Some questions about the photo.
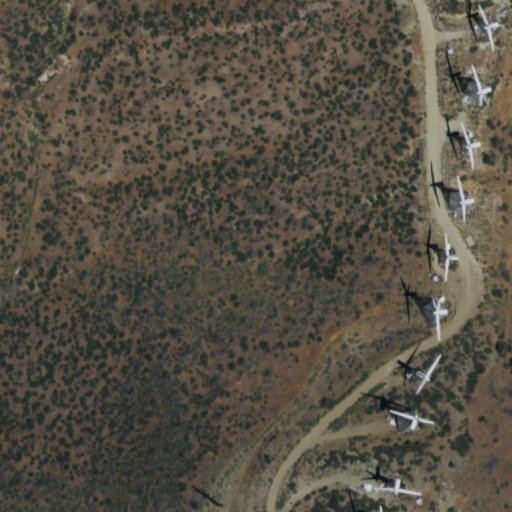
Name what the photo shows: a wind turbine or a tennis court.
wind turbine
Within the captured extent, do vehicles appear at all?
No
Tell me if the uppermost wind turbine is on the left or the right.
right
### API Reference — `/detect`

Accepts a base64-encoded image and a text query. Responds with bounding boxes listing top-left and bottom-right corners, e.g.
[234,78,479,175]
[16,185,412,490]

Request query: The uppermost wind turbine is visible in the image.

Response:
[478,4,500,49]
